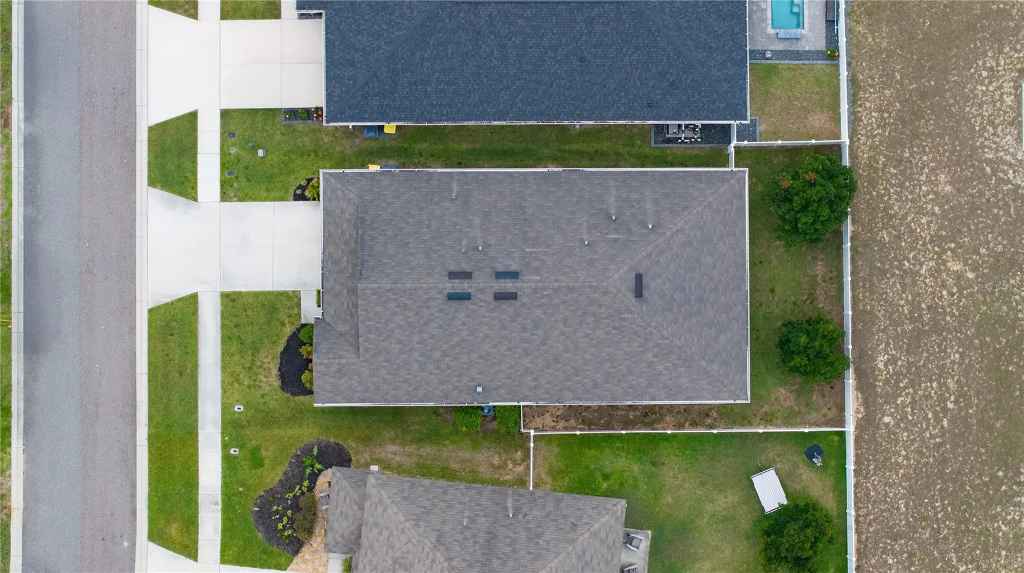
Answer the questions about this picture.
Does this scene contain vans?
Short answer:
No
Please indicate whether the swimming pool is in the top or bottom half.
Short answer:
top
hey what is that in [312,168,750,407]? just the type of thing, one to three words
house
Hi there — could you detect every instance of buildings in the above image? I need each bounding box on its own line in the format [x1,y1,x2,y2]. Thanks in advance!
[312,168,750,407]
[296,0,749,124]
[324,467,626,573]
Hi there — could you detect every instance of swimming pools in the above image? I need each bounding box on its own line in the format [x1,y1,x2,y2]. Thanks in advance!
[768,0,808,33]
